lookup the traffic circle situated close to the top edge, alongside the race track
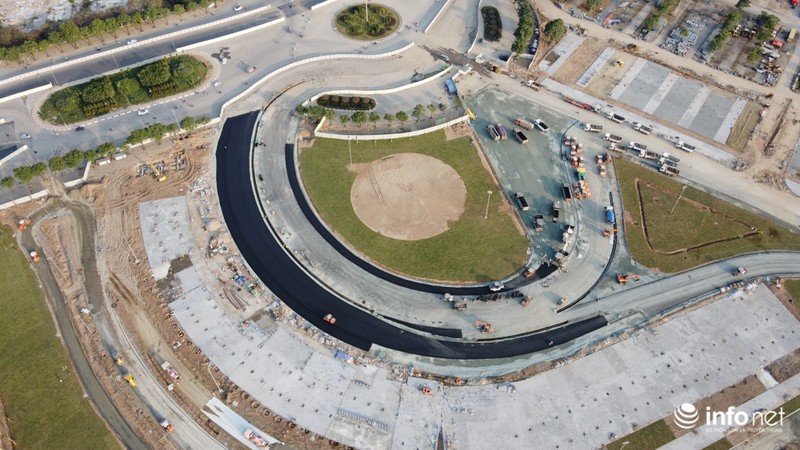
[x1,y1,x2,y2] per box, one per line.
[334,2,401,40]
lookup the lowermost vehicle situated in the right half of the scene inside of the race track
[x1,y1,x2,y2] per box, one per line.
[473,318,495,334]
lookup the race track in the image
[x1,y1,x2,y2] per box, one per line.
[212,44,800,378]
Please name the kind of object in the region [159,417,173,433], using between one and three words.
work vehicle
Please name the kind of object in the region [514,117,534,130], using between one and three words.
vehicle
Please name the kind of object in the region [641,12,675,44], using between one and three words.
shed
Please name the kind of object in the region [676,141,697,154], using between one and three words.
vehicle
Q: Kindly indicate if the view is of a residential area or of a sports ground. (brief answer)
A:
sports ground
